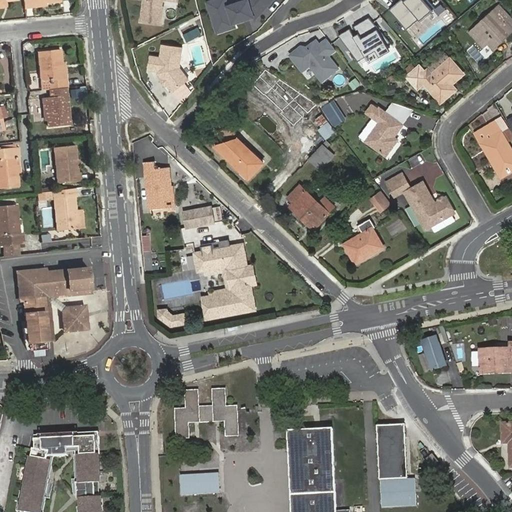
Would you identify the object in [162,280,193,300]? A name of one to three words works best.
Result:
swimming pool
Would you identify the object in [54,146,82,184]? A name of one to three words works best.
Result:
house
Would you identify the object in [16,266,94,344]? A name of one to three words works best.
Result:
building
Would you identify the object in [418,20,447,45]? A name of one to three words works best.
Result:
swimming pool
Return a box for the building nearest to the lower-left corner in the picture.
[18,456,49,512]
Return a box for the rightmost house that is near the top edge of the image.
[469,2,512,52]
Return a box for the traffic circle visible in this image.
[100,336,162,399]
